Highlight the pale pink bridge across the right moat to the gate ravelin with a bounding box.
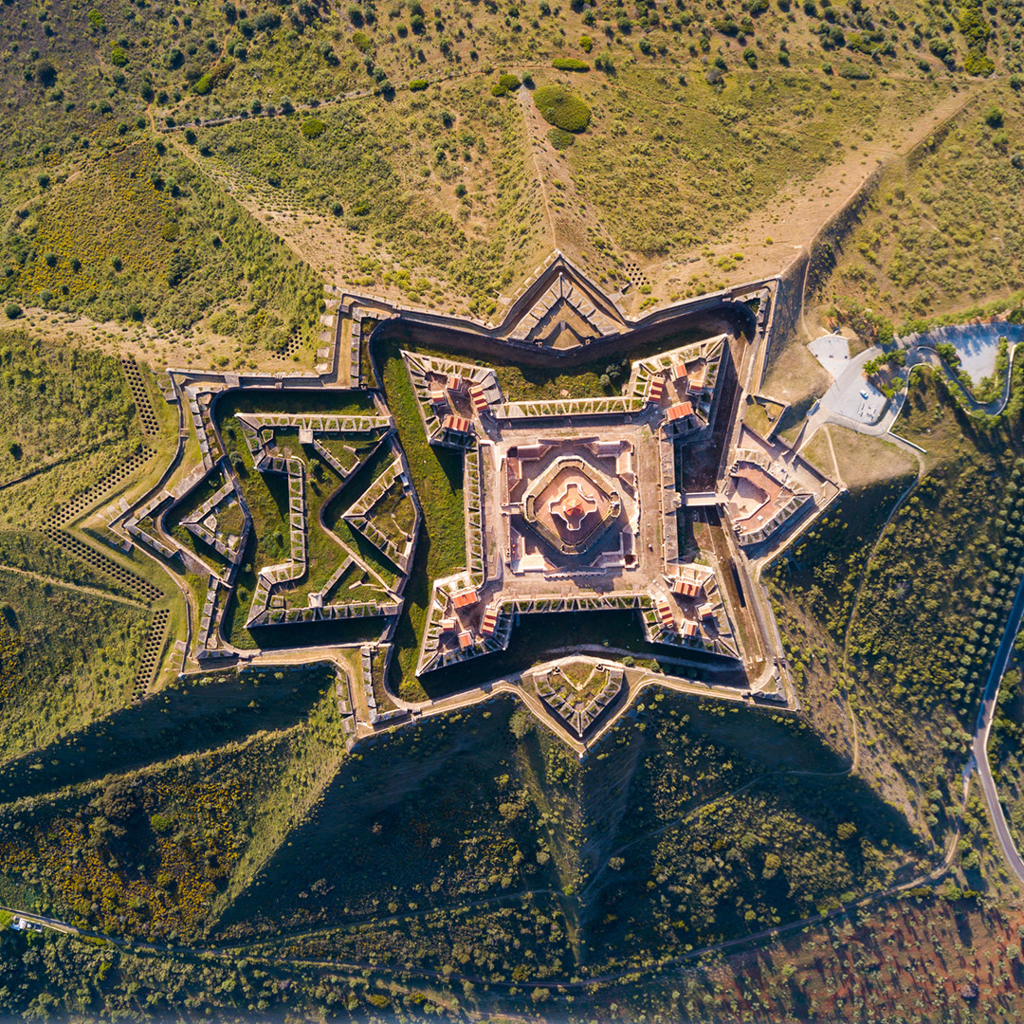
[680,488,727,511]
